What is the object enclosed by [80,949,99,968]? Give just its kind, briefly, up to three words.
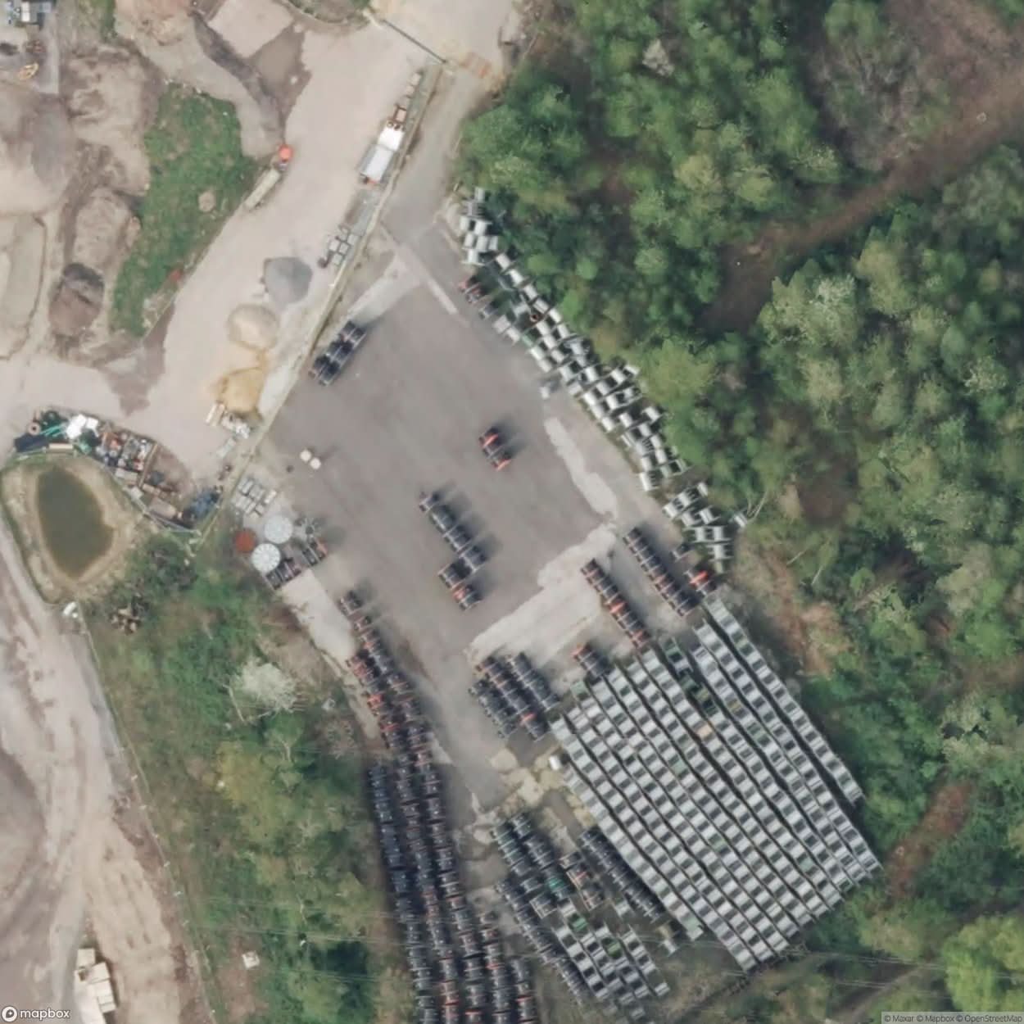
building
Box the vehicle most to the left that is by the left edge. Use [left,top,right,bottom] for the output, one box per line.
[18,63,38,80]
